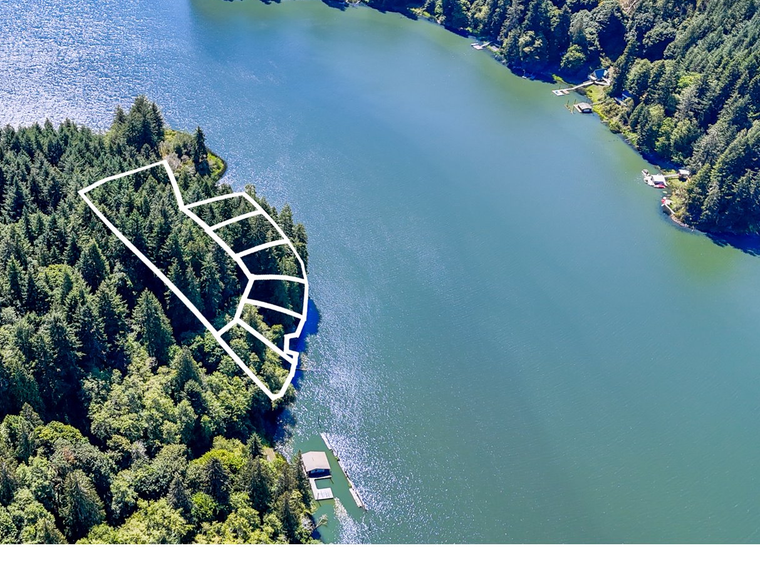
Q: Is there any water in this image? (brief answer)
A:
Yes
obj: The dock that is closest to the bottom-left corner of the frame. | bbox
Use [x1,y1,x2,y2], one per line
[310,474,334,500]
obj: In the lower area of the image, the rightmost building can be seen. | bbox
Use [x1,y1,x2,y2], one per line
[301,451,330,475]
